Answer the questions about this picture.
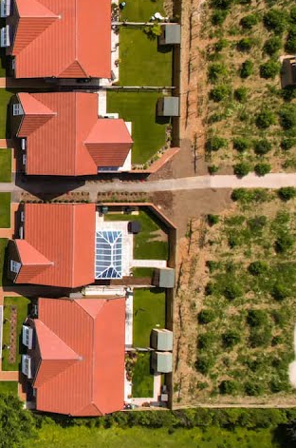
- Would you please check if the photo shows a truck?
No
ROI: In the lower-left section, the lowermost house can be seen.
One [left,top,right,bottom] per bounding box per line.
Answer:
[21,295,126,415]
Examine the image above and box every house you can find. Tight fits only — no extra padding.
[11,92,131,175]
[0,0,112,78]
[21,295,126,415]
[8,203,96,286]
